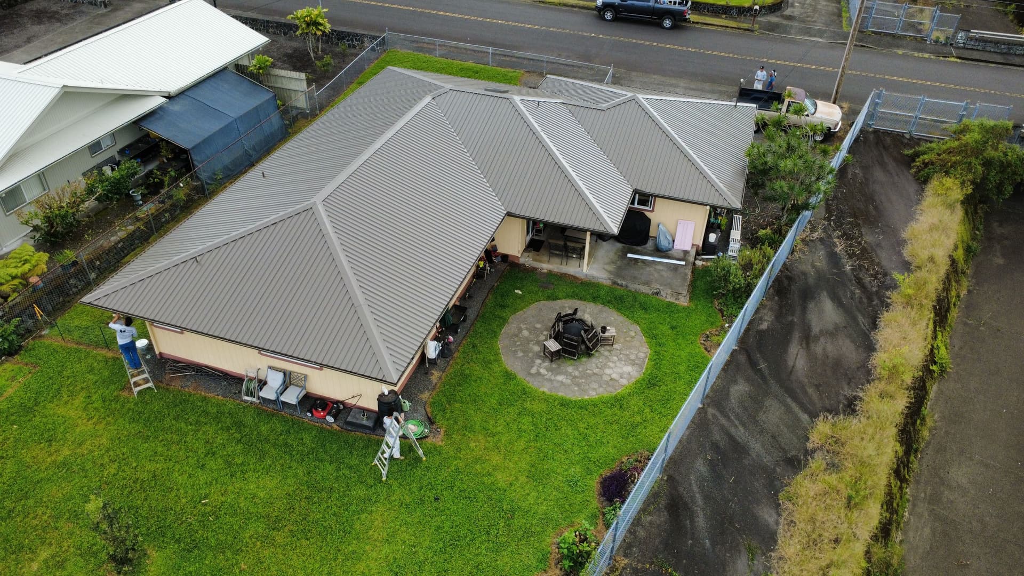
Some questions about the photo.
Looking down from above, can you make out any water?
No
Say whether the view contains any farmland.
No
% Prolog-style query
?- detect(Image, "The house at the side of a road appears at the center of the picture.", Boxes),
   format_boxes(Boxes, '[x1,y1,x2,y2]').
[77,65,759,412]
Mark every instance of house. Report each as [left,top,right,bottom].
[0,1,272,255]
[77,65,759,412]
